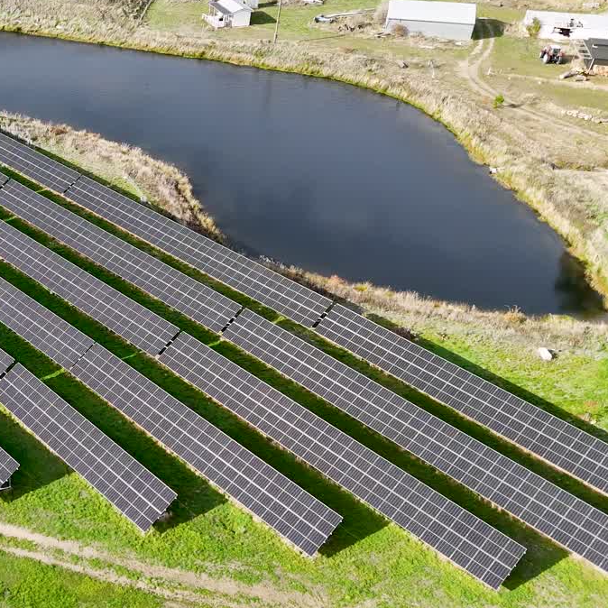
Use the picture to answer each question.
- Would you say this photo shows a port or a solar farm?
solar farm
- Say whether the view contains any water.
Yes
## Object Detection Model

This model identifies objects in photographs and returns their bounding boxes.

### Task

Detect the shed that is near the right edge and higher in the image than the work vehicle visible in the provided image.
[517,6,608,41]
